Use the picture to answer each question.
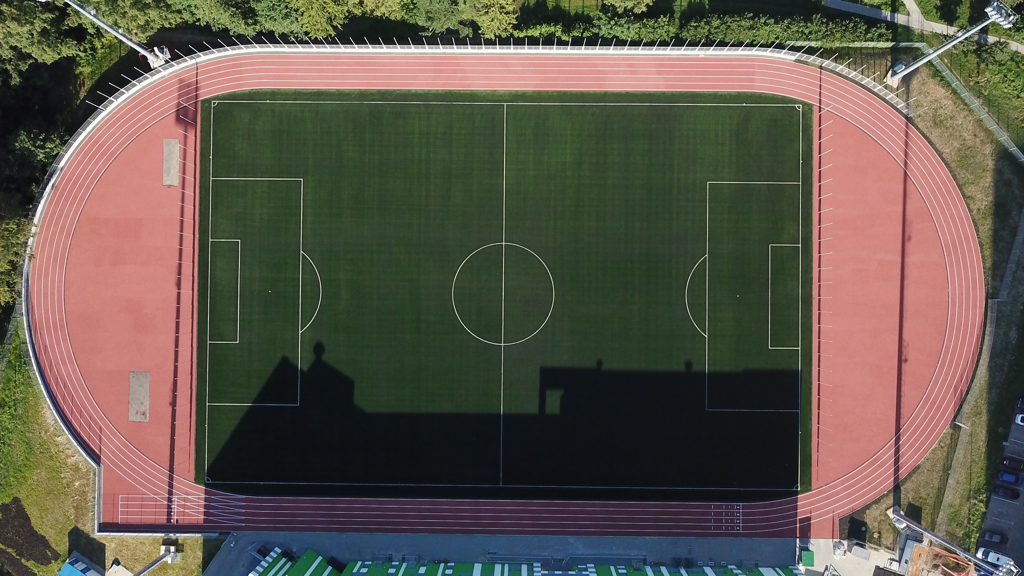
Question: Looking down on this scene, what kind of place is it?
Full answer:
This looks like a sports ground.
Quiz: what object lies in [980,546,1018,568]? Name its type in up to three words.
vehicle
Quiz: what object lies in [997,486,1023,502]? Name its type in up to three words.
car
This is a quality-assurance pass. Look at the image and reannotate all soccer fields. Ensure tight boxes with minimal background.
[195,90,813,502]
